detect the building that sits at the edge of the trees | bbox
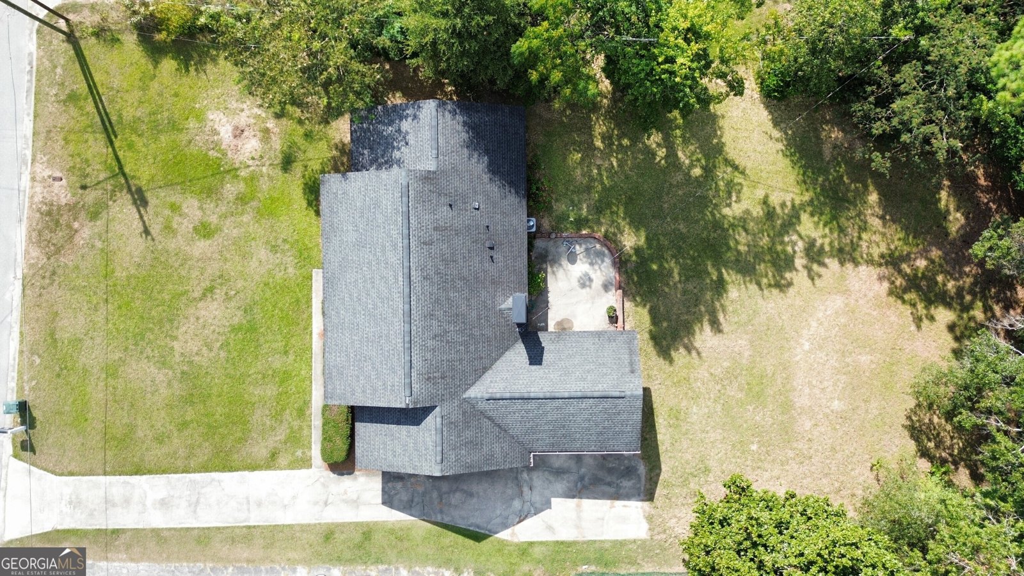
[320,101,644,476]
